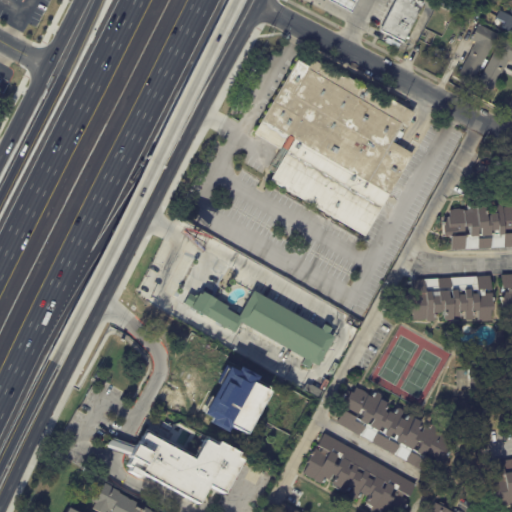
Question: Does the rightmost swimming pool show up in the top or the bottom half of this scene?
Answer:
bottom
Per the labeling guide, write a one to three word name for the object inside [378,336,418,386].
tennis court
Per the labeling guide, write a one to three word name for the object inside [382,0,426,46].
building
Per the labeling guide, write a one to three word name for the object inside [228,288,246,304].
swimming pool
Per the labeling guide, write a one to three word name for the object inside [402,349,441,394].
tennis court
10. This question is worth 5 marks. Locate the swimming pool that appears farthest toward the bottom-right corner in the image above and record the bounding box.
[462,326,496,346]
